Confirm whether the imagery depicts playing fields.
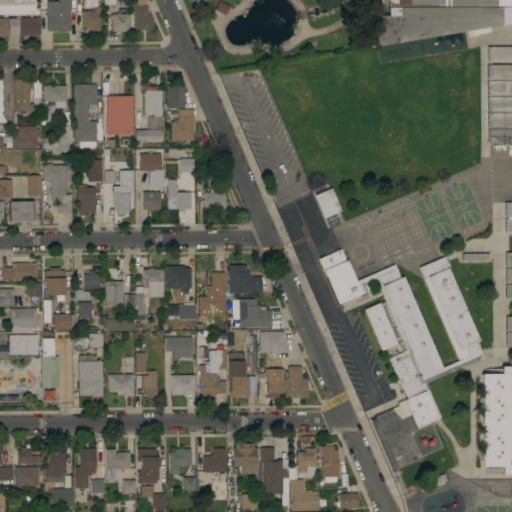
Yes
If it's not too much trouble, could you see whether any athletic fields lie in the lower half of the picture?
No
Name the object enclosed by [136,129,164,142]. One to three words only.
house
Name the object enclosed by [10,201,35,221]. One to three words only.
building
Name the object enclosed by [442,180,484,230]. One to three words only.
basketball court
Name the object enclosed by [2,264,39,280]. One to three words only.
house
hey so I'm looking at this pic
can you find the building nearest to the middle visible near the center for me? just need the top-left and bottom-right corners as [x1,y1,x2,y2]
[230,265,262,293]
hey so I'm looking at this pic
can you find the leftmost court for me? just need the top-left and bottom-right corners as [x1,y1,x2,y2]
[414,192,456,242]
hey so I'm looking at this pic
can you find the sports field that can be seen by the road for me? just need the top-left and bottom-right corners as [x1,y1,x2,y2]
[262,47,480,223]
